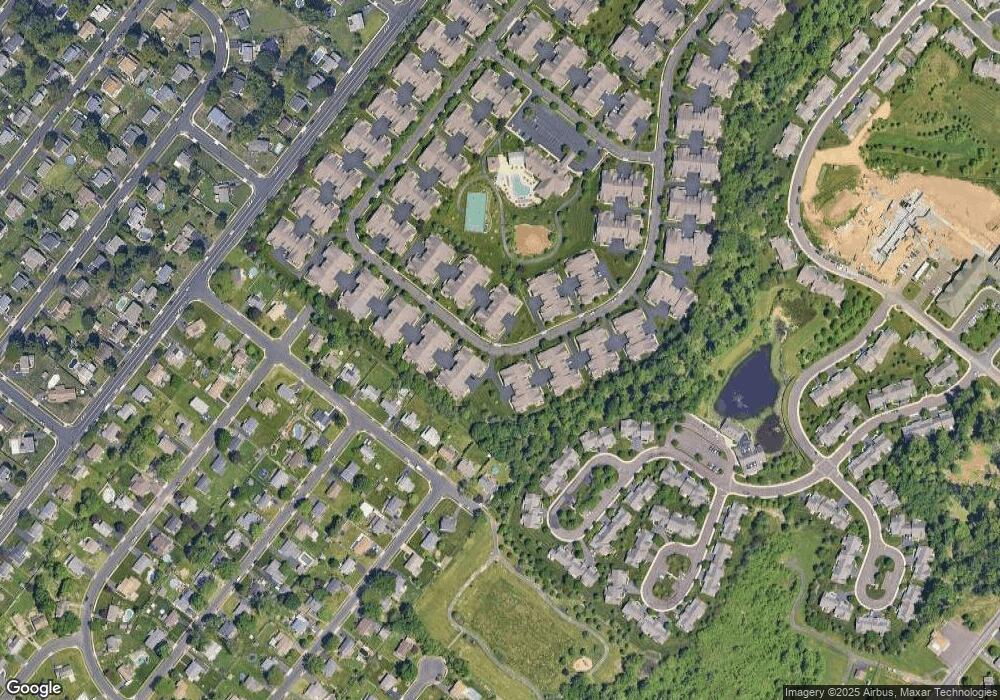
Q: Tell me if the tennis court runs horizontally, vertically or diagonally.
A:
vertically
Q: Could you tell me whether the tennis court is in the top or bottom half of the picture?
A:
top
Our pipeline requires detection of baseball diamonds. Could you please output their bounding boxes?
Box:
[516,225,551,256]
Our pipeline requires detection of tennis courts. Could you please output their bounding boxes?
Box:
[465,192,487,233]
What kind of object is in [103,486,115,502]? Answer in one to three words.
swimming pool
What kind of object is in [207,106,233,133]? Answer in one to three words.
house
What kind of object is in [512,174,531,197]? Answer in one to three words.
swimming pool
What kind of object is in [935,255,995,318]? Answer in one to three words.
building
